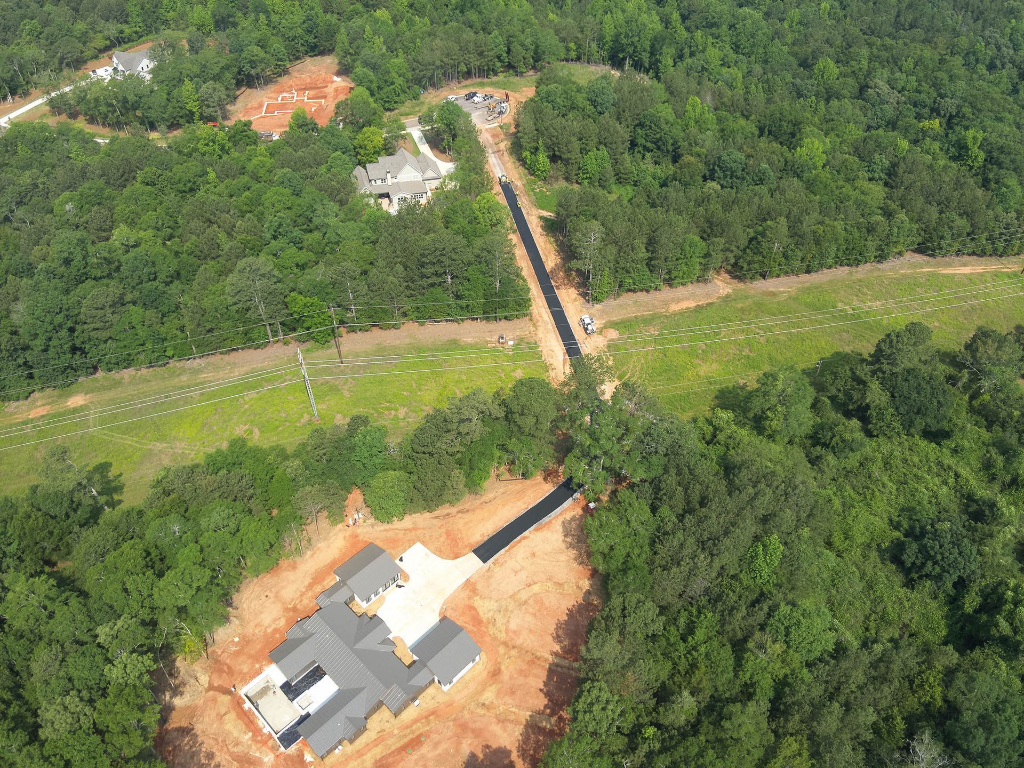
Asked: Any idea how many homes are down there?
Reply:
3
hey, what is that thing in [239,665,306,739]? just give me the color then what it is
white swimming pool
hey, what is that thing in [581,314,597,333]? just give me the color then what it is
white vehicle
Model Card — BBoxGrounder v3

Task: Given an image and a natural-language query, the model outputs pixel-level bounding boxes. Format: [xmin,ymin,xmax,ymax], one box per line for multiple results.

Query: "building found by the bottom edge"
[267,542,483,761]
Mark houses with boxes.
[267,542,483,761]
[360,148,442,206]
[113,42,165,78]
